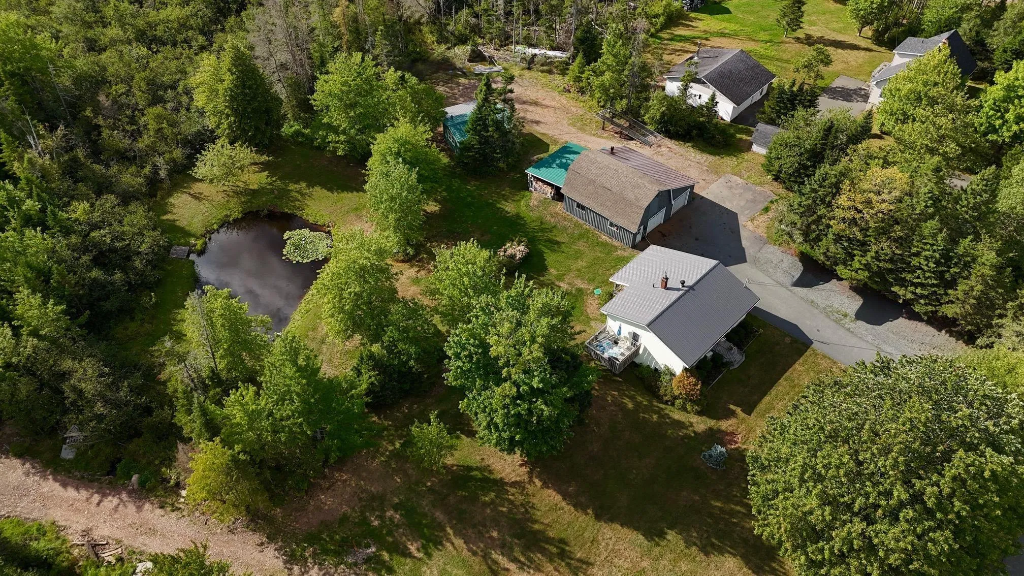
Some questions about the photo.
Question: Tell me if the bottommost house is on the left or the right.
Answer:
right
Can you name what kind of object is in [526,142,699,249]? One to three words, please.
building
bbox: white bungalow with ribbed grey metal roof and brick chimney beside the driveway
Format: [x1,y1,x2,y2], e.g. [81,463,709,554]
[599,244,760,387]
